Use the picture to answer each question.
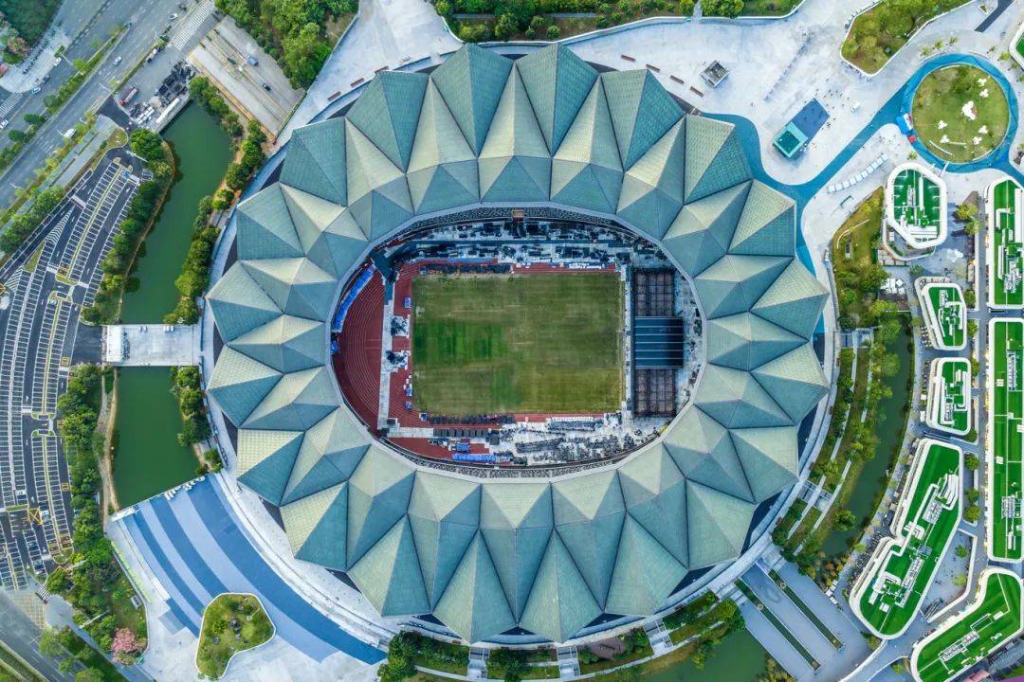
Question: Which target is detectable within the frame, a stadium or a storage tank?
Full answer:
The image shows a stadium.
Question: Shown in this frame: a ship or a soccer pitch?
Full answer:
Looking from above, you can make out a soccer pitch.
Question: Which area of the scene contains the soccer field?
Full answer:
The soccer field appears toward the center of the photo.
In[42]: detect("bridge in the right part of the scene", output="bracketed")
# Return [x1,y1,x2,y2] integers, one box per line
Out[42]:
[720,554,876,682]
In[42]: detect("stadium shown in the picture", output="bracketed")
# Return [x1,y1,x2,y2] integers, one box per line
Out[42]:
[205,42,830,645]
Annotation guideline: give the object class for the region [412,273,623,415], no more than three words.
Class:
soccer field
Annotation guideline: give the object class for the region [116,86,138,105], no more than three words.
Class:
vehicle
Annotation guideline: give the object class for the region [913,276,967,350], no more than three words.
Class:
building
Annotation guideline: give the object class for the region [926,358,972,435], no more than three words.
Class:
building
